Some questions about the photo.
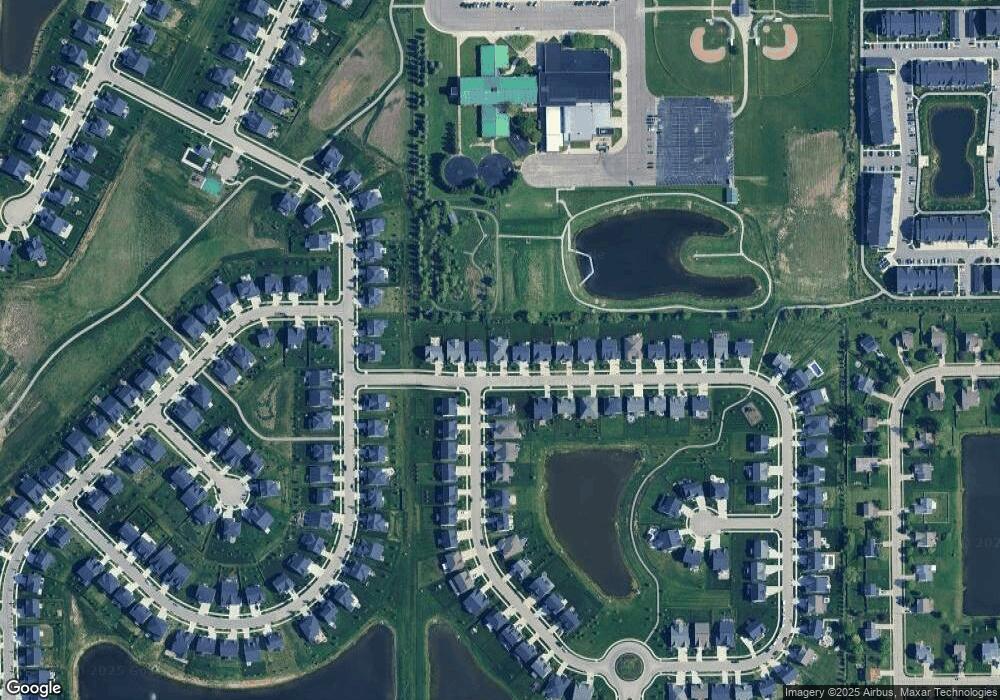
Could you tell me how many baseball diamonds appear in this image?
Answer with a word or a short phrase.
2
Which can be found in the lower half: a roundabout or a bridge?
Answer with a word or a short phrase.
roundabout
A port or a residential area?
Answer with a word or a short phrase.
residential area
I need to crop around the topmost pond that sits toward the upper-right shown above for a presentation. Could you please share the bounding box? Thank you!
[929,106,975,199]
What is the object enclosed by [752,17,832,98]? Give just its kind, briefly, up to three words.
baseball field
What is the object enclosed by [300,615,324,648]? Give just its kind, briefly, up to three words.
house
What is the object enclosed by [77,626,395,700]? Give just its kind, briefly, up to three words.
pond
